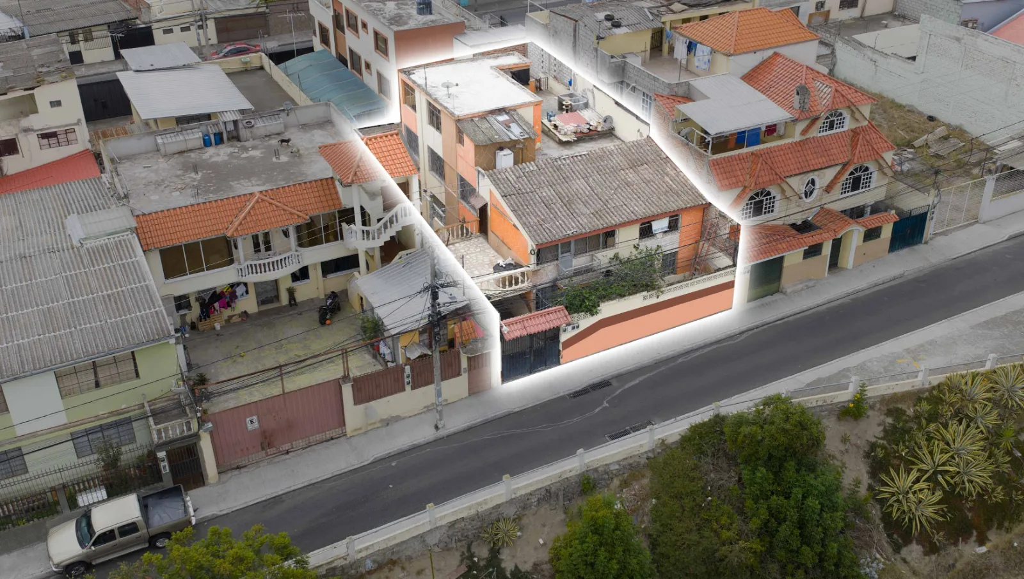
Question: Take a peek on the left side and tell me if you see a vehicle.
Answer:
Yes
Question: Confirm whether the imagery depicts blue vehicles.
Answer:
No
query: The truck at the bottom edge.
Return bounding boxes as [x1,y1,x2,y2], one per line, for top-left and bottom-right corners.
[47,482,202,575]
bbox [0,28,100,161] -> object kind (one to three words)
house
